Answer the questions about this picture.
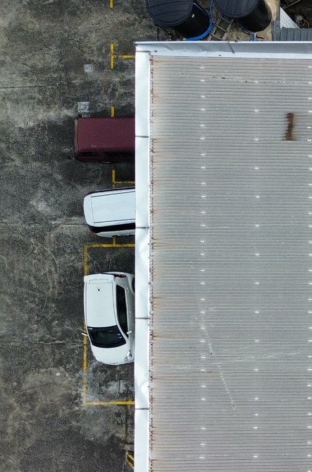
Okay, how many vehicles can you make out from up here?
3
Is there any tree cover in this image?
No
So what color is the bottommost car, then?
white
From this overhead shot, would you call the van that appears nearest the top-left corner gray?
No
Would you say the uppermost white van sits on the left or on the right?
left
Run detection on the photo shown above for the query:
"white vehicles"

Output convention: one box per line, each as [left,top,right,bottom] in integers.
[82,273,136,365]
[83,186,136,238]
